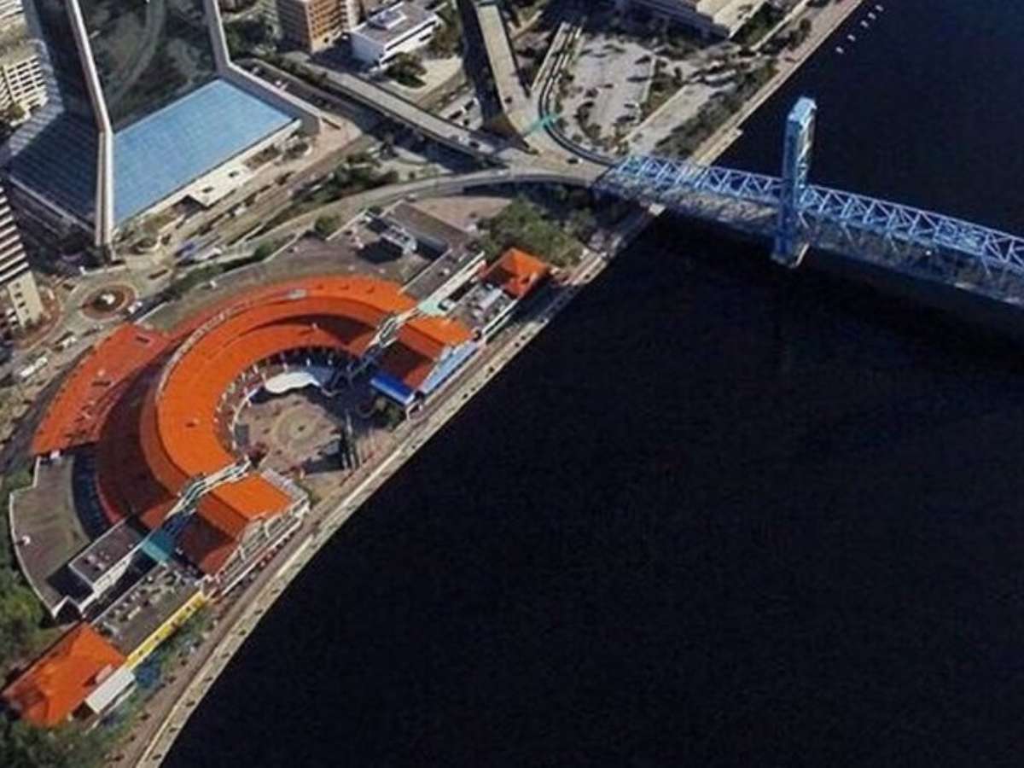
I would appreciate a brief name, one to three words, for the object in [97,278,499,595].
building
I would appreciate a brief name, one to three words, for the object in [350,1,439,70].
building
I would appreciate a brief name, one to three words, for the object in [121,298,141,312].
vehicle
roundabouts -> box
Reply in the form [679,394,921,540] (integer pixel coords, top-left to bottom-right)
[50,264,166,338]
